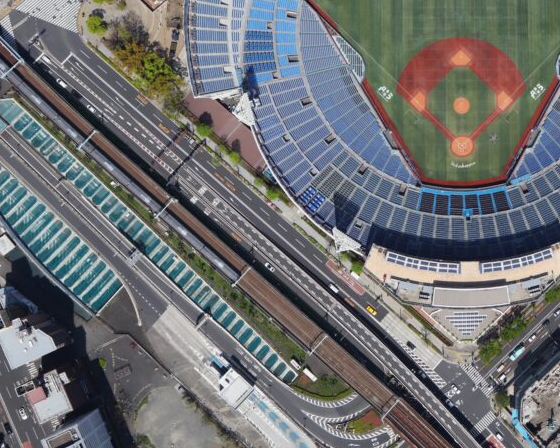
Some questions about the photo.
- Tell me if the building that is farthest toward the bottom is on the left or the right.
left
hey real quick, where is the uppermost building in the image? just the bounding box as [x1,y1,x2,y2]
[0,233,19,257]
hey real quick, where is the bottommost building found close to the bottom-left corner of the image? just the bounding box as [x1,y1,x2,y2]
[41,397,130,448]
